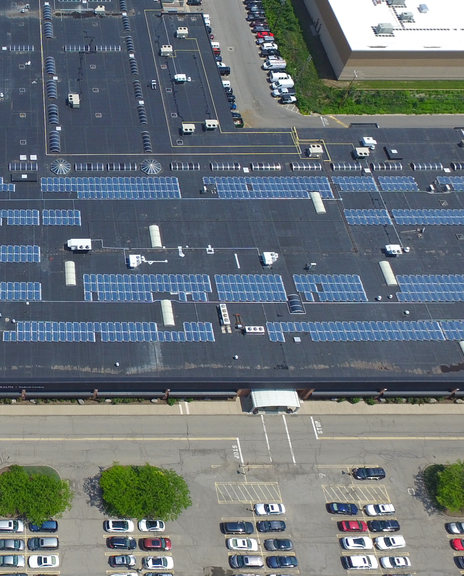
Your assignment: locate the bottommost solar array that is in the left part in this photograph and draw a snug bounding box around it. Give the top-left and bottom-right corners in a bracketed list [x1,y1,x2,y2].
[3,322,216,342]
